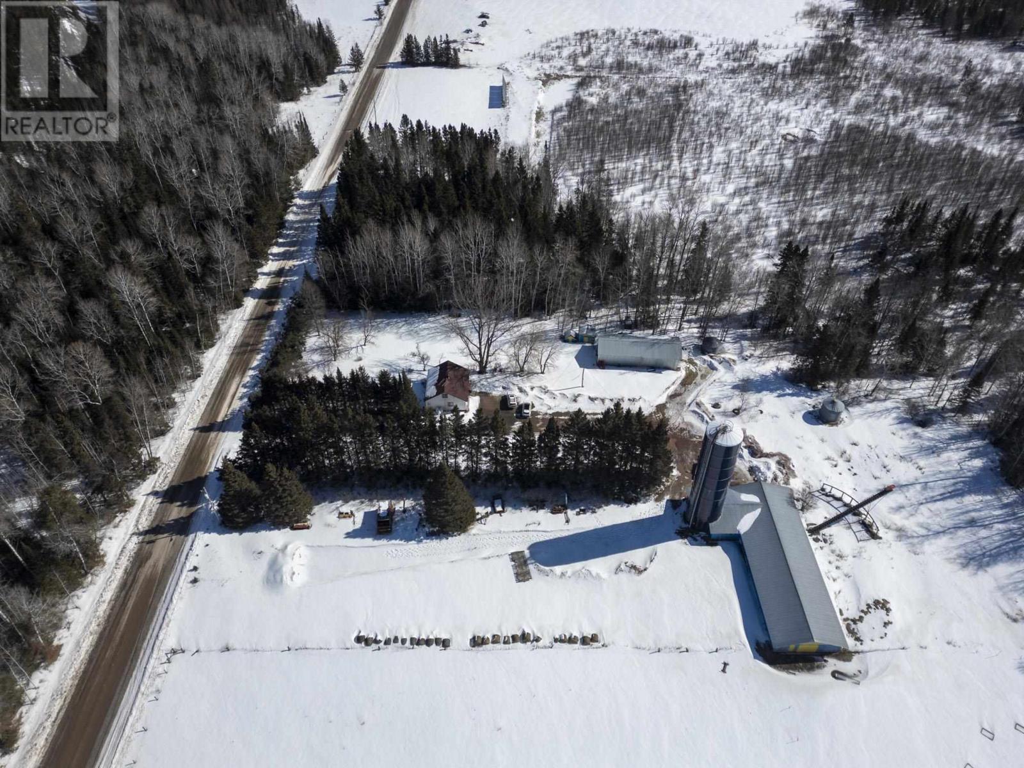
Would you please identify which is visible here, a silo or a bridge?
silo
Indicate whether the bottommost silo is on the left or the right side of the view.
right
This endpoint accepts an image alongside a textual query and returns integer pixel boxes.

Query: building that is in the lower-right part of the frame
[710,482,852,662]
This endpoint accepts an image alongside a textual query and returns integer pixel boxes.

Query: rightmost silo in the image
[820,399,848,424]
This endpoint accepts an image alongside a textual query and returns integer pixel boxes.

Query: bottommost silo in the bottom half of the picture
[682,421,737,537]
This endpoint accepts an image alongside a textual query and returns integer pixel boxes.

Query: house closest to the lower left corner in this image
[424,358,470,412]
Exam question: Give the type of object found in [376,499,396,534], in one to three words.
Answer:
work vehicle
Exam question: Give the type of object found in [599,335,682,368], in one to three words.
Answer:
shed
